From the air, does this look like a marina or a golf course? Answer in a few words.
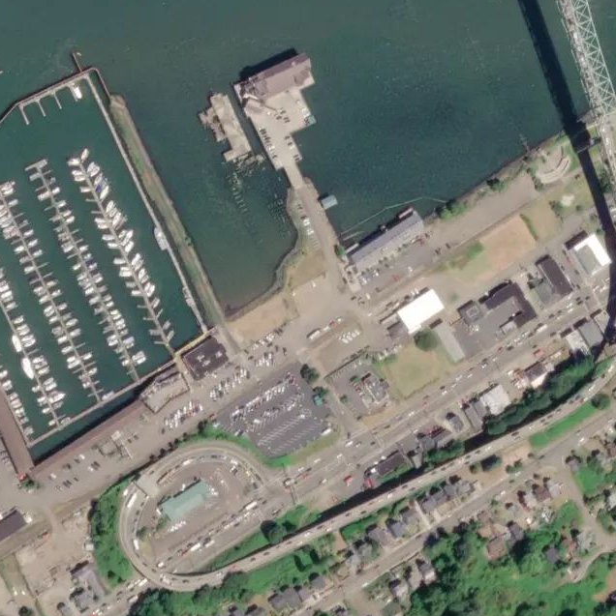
marina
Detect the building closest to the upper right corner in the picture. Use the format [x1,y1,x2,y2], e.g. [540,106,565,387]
[568,234,613,278]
